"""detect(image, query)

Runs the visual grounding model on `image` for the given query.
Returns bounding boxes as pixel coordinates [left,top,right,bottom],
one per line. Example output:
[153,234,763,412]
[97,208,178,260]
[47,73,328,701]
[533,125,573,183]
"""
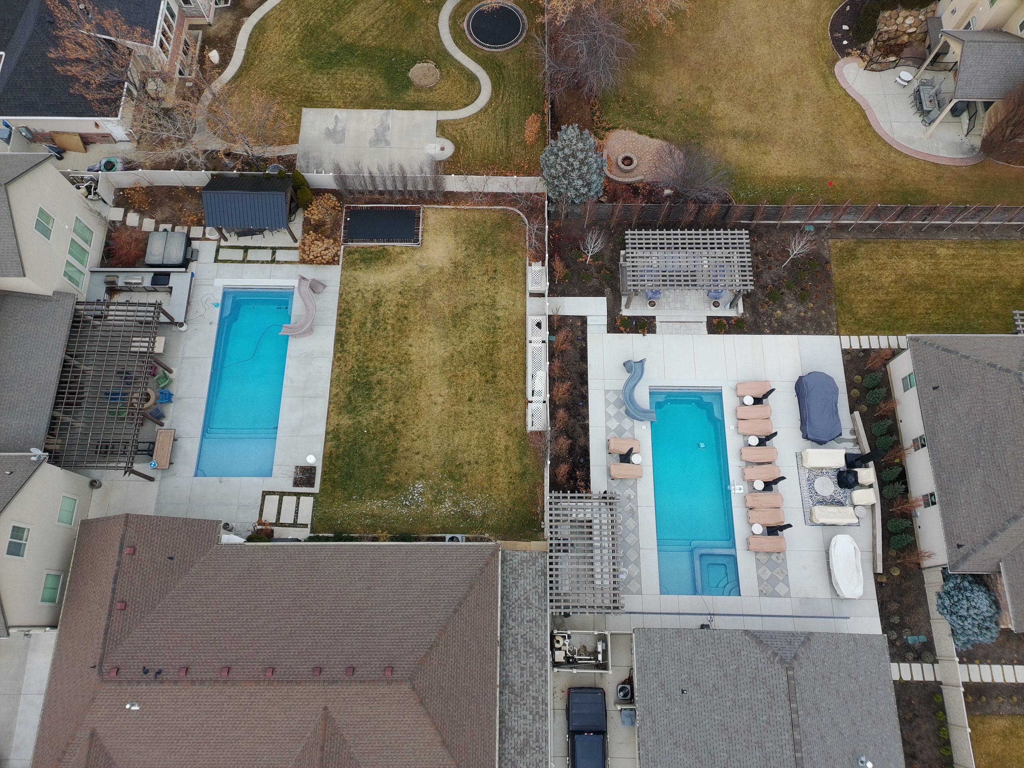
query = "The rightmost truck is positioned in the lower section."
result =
[566,684,613,768]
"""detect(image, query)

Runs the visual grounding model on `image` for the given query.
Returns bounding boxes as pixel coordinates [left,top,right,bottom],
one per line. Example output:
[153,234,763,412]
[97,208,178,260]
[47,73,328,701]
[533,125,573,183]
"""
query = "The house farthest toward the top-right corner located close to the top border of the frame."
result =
[912,0,1024,138]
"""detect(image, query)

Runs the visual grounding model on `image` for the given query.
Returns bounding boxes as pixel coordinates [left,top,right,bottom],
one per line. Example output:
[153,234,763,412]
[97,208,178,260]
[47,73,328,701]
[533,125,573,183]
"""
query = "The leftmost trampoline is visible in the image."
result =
[340,204,425,250]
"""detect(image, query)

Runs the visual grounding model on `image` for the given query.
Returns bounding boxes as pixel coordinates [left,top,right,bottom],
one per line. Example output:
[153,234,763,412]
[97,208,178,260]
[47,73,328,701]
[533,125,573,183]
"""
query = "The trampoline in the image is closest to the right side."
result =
[464,1,529,53]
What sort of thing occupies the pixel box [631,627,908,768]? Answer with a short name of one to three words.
house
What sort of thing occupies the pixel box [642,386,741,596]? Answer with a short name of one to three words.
swimming pool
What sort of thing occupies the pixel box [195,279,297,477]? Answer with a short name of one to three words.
swimming pool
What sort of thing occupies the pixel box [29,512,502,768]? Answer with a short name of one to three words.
house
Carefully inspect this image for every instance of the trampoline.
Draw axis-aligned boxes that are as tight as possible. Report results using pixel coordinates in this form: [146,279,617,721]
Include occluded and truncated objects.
[464,1,529,53]
[340,204,425,250]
